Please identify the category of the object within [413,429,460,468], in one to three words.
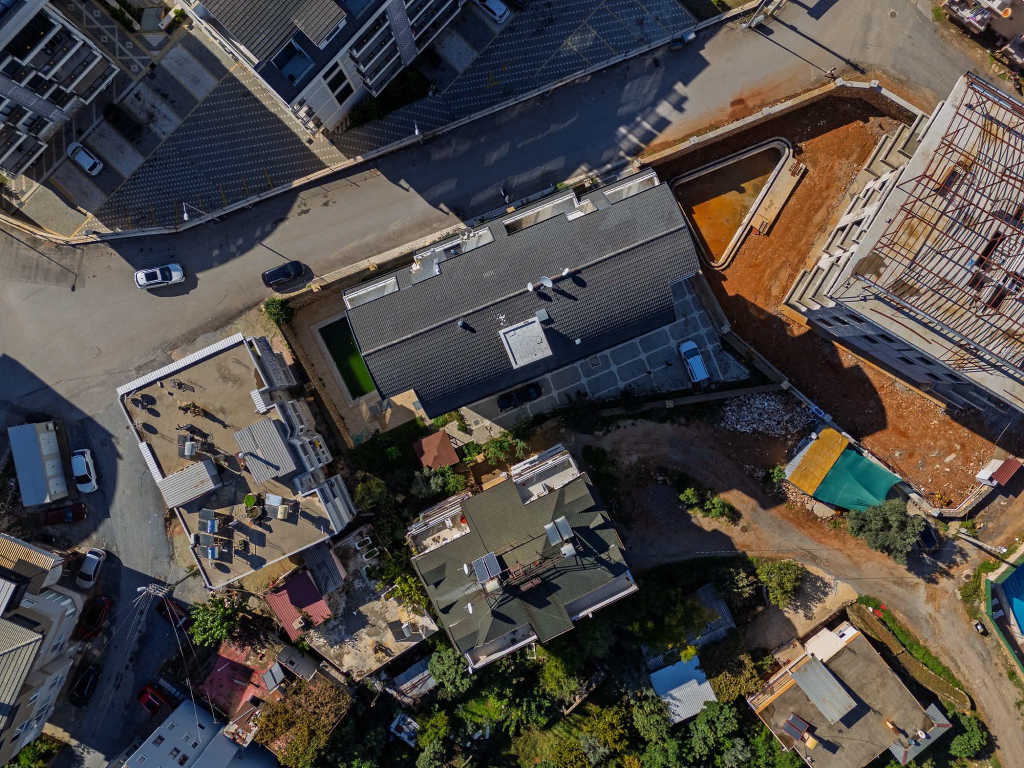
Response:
gazebo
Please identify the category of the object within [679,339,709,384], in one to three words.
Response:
vehicle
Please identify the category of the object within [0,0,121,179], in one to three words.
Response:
building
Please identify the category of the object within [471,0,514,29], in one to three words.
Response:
car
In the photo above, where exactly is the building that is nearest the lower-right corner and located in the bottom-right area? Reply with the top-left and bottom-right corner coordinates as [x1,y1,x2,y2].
[746,607,952,768]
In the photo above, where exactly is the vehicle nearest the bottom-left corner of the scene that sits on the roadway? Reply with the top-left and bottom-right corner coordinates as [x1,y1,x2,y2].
[67,661,107,710]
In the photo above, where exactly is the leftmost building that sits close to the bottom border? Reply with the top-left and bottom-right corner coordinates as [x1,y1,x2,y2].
[0,534,95,768]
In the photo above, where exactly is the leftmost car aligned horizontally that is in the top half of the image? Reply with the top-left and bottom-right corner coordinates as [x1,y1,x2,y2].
[134,262,185,289]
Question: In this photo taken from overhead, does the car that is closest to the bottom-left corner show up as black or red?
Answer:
black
